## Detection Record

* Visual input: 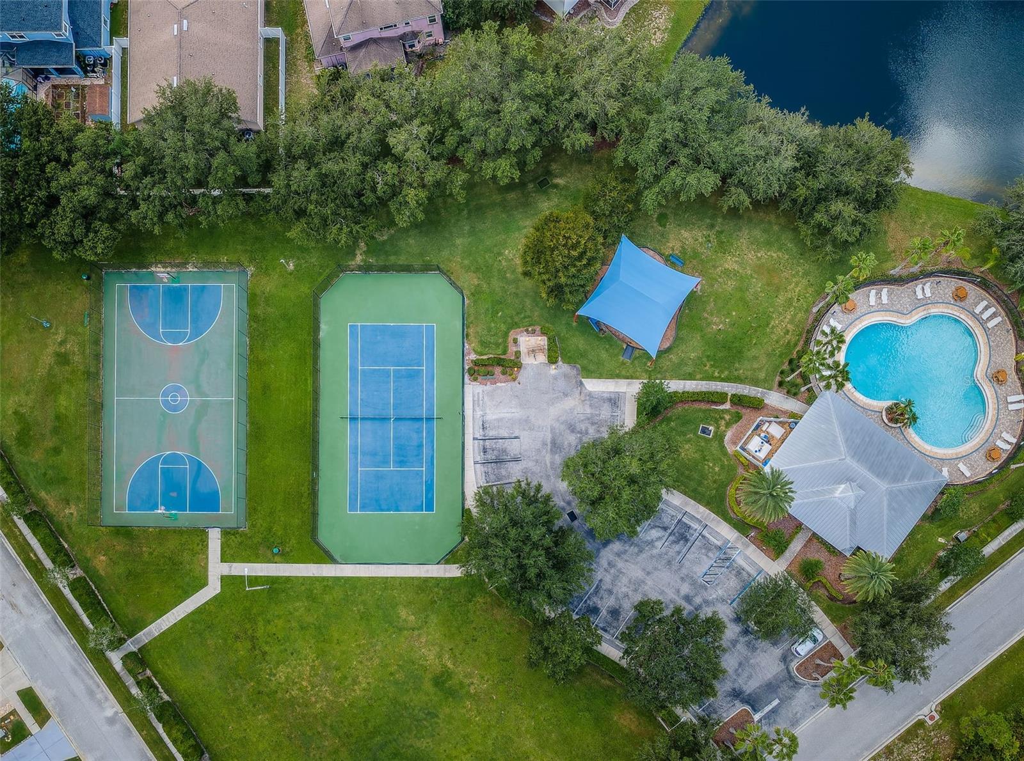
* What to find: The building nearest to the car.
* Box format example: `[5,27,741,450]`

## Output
[766,390,947,558]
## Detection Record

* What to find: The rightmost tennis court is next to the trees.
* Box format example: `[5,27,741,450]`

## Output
[317,273,462,564]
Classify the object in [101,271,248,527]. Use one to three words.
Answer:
basketball court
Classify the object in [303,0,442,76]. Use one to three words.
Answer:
house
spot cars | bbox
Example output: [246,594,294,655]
[792,628,826,659]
